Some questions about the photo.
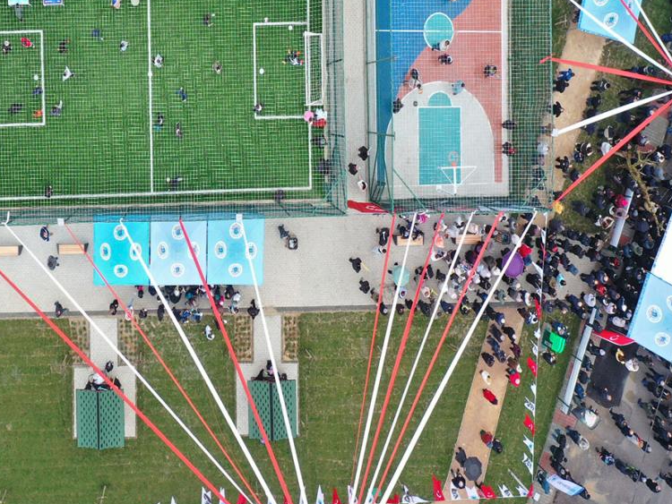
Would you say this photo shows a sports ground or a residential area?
sports ground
